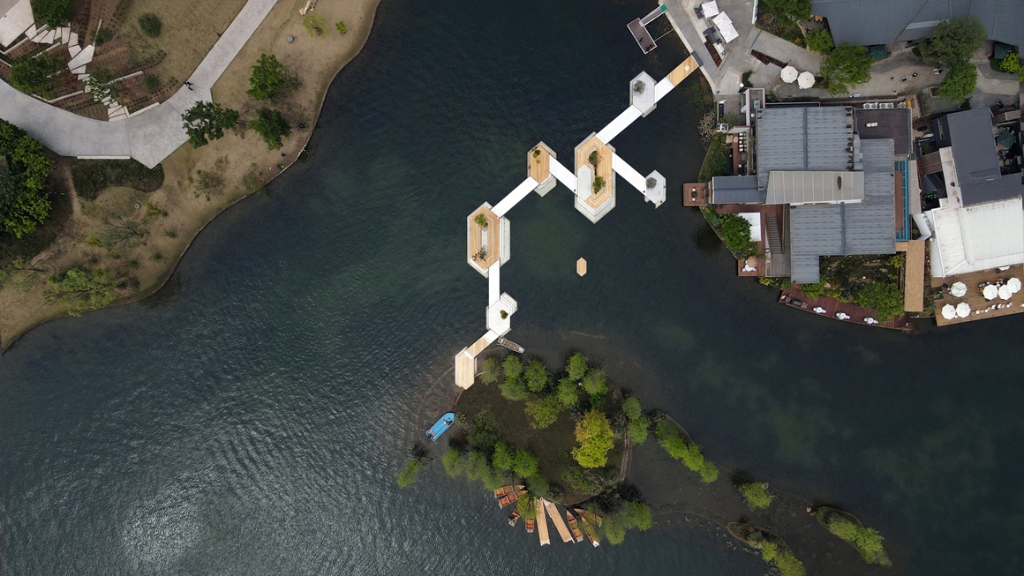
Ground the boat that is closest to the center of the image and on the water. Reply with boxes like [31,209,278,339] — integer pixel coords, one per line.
[498,337,524,351]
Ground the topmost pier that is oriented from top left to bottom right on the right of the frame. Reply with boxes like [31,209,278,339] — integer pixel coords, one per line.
[626,17,658,55]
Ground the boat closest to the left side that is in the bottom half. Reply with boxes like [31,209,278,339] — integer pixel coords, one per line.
[427,413,456,441]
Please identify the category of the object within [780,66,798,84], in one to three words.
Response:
umbrella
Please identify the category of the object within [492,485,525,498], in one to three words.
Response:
boat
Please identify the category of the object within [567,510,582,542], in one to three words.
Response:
boat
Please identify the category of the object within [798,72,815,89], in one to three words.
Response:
umbrella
